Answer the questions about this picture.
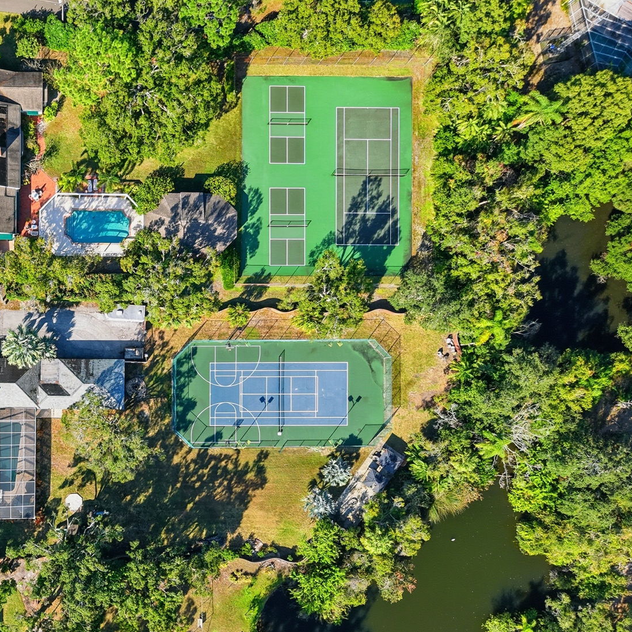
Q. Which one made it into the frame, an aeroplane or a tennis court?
tennis court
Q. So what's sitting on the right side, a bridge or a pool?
pool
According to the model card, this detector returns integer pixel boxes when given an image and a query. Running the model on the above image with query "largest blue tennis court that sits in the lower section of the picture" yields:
[210,363,348,426]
